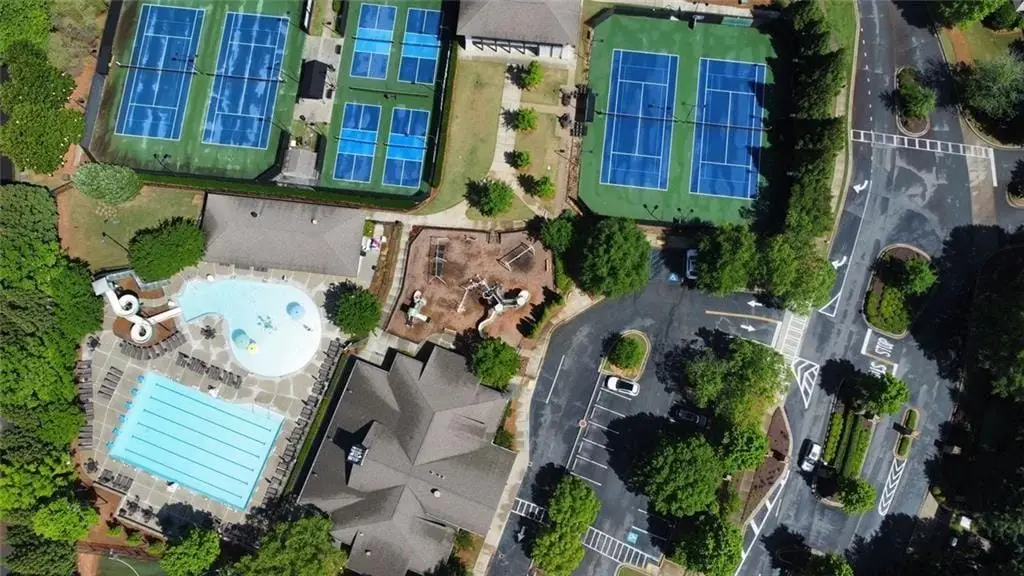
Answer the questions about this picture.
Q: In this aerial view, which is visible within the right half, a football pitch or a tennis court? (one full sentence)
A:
There is a tennis court within the right half.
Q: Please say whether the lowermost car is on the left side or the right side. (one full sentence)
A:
The lowermost car appears in the right half of the scene.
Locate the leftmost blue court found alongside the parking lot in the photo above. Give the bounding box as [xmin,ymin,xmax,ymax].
[599,49,680,191]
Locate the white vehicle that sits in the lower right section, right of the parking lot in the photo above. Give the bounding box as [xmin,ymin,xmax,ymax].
[799,441,823,474]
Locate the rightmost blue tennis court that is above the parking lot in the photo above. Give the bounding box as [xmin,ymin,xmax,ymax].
[689,57,770,200]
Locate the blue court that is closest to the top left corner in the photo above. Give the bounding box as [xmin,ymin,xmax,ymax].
[114,4,205,141]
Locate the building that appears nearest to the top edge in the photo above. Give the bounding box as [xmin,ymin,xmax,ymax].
[456,0,577,61]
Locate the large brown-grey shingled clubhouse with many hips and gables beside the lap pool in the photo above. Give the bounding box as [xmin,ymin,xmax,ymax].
[296,344,517,576]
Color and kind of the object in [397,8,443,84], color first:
blue sports court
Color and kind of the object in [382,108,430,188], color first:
blue sports court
